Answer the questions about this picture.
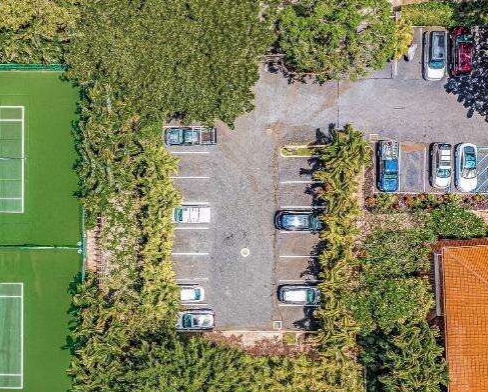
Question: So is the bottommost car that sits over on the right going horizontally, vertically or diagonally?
horizontally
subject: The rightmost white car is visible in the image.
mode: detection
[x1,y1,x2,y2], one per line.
[454,145,479,191]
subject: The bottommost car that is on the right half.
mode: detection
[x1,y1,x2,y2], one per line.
[276,286,322,307]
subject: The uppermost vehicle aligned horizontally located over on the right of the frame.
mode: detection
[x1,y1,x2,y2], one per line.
[274,210,323,232]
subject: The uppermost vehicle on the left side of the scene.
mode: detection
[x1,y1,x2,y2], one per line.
[164,125,217,146]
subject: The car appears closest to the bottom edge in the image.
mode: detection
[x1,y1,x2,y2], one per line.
[177,309,217,330]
